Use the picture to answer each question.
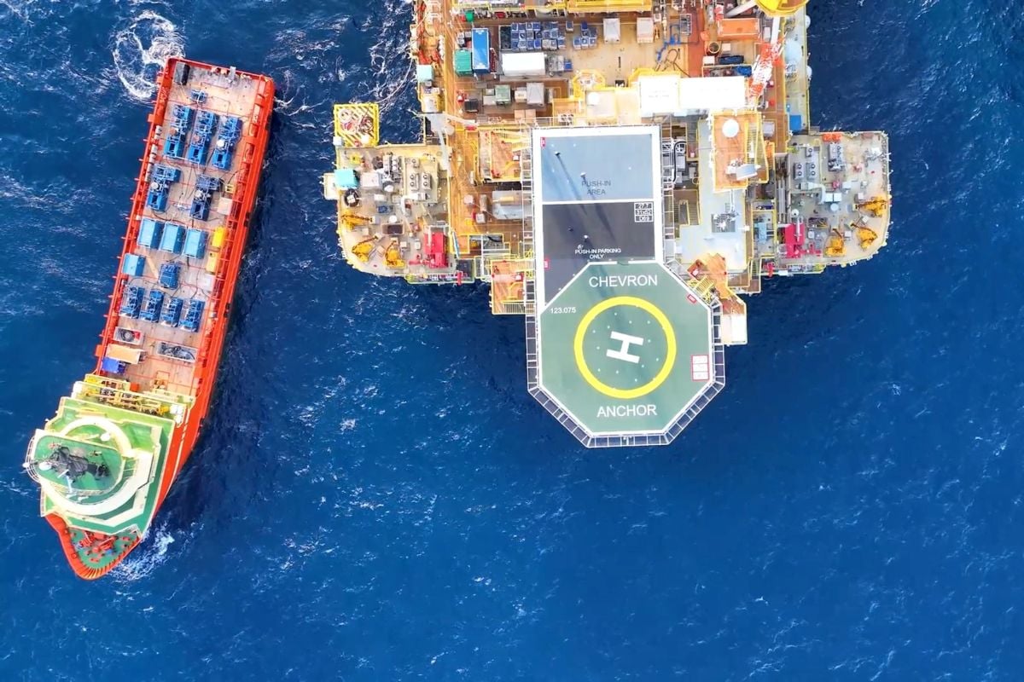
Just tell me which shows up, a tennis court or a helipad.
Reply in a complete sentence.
Of the two, only a helipad appears.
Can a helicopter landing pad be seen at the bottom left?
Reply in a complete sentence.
No, I can find no helicopter landing pad at the bottom left.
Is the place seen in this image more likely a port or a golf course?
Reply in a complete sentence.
What you see here is a port.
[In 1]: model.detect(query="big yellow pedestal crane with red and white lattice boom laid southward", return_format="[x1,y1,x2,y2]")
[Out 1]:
[742,0,810,118]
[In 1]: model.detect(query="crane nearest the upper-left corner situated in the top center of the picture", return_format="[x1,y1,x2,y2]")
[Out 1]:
[418,110,479,179]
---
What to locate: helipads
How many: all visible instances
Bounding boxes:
[522,123,726,448]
